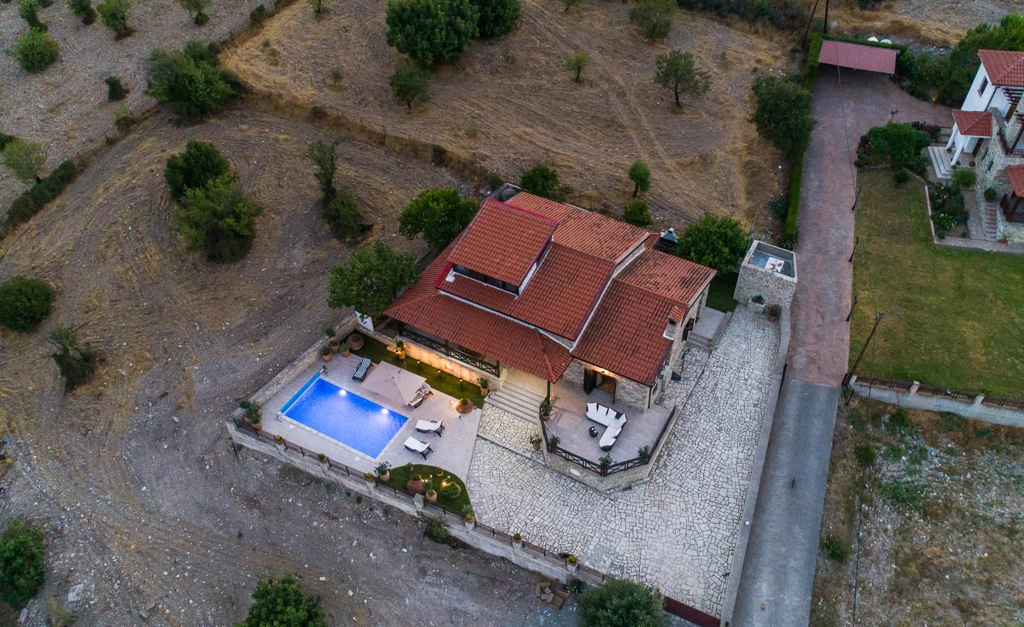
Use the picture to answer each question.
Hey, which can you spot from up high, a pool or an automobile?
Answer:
pool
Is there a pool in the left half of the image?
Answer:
Yes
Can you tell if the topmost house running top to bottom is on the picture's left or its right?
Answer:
right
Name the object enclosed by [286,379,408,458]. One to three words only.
swimming pool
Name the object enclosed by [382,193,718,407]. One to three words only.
house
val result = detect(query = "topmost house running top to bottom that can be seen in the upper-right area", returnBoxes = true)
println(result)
[931,52,1024,246]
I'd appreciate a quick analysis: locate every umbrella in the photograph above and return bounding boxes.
[362,357,427,406]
